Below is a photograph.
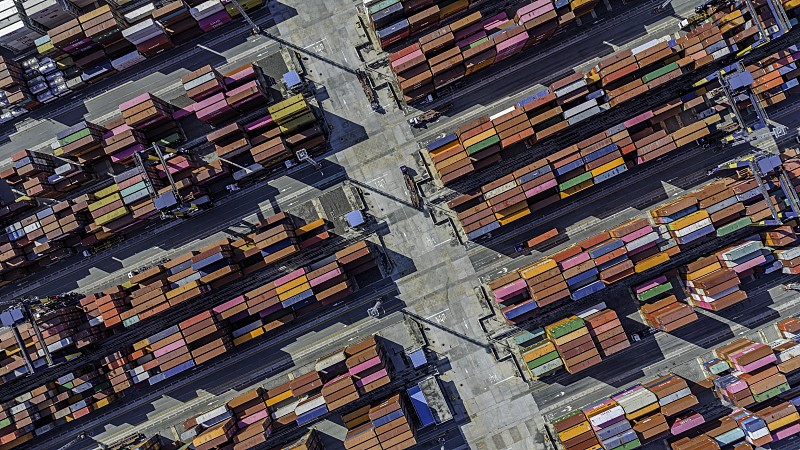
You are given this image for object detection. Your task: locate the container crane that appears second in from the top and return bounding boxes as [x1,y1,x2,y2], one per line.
[672,58,776,149]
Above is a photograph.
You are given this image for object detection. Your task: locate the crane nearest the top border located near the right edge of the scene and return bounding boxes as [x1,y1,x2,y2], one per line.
[690,0,798,70]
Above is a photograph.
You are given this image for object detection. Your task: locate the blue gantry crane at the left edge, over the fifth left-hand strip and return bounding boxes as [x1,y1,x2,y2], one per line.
[0,288,105,381]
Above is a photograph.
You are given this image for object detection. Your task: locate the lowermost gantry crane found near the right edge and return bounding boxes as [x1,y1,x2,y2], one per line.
[698,148,800,232]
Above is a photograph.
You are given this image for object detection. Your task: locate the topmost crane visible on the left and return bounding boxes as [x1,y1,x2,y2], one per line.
[128,137,216,216]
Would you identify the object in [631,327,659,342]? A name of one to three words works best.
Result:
vehicle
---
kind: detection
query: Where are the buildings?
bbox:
[408,376,452,428]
